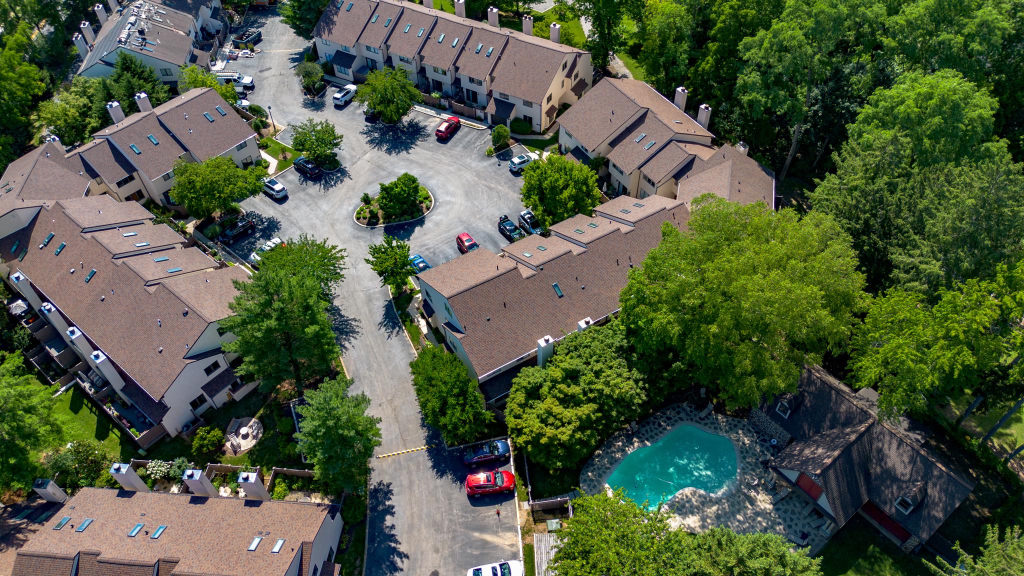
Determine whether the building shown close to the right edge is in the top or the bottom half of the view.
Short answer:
bottom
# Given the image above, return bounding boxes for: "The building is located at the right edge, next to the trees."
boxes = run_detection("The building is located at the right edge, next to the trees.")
[745,353,979,550]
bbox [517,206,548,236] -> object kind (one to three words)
car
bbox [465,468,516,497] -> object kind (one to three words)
car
